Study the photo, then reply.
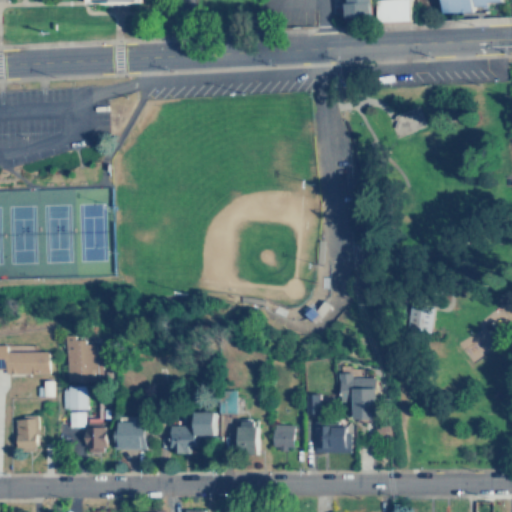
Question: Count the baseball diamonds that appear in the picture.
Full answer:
The count comes to 1 baseball diamond.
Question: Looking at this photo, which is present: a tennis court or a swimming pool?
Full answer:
It is a tennis court that can be seen here.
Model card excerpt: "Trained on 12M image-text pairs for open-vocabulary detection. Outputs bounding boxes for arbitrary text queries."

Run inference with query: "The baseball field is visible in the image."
[118,94,322,307]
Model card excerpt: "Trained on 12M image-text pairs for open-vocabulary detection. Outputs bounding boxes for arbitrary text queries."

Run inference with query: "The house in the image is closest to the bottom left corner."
[17,416,42,452]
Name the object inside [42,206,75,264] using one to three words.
tennis court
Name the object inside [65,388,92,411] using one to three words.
barn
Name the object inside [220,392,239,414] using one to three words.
shed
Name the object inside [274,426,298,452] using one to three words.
house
